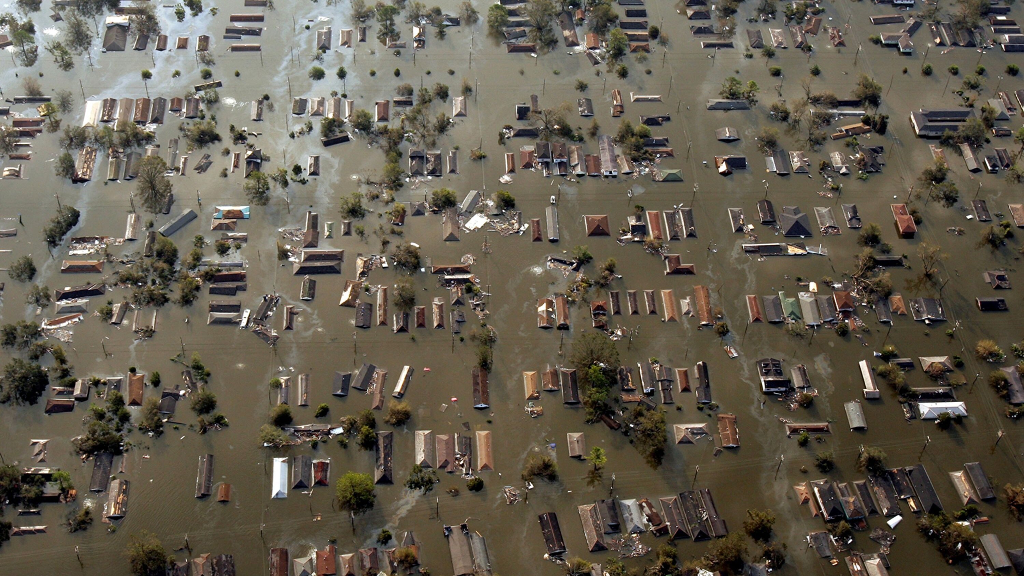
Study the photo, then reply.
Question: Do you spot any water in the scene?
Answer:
Yes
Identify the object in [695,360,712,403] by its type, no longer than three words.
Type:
shed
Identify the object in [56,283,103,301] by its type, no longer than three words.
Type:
house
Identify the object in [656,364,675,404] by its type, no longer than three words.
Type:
shed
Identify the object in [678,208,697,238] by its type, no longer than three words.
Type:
house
